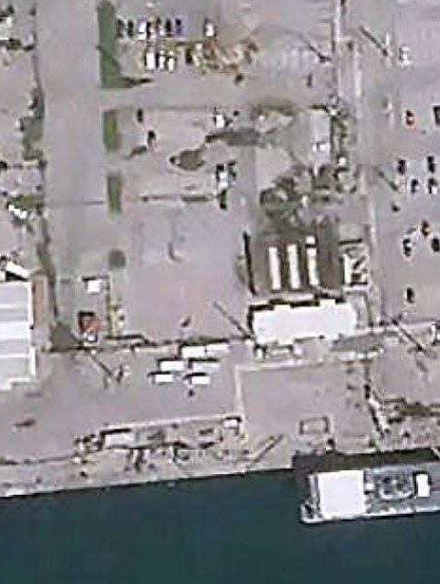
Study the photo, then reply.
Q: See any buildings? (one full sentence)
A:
Yes, there's a building down there.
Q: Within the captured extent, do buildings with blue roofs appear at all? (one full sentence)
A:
No, no building with a blue roof can be seen from above.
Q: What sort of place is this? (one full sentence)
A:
This looks like a port.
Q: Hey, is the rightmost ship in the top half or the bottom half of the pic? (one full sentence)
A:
The rightmost ship sits in the bottom half of the picture.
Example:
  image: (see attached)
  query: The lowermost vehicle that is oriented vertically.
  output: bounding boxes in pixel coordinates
[82,313,95,342]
